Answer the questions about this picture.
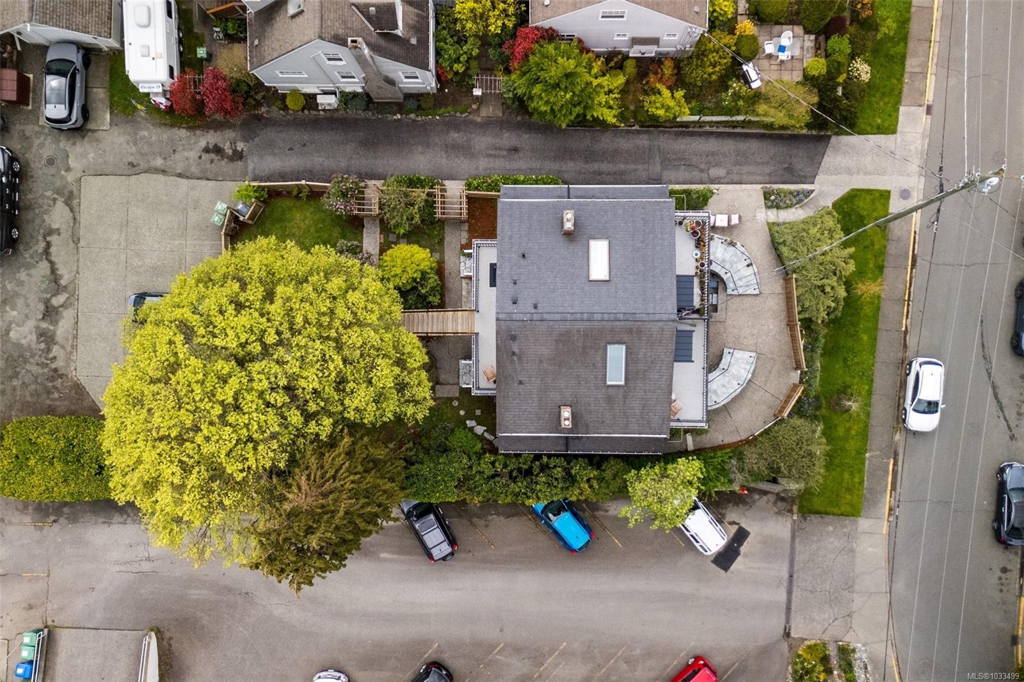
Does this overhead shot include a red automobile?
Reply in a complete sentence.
Yes, there is a red automobile in the image.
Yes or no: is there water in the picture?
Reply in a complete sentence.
No, there is no water in the image.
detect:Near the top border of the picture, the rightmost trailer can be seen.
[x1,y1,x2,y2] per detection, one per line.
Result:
[123,0,186,121]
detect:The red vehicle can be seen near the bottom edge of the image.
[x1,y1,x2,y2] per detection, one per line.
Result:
[666,650,719,682]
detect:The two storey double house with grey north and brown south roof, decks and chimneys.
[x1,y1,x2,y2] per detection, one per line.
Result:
[474,185,708,456]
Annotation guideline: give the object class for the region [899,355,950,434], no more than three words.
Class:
car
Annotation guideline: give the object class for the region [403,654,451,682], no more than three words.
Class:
car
